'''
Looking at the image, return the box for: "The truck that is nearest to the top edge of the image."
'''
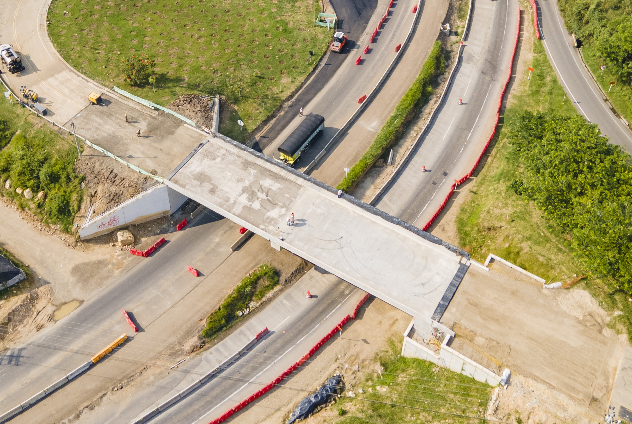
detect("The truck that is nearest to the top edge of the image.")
[0,38,25,74]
